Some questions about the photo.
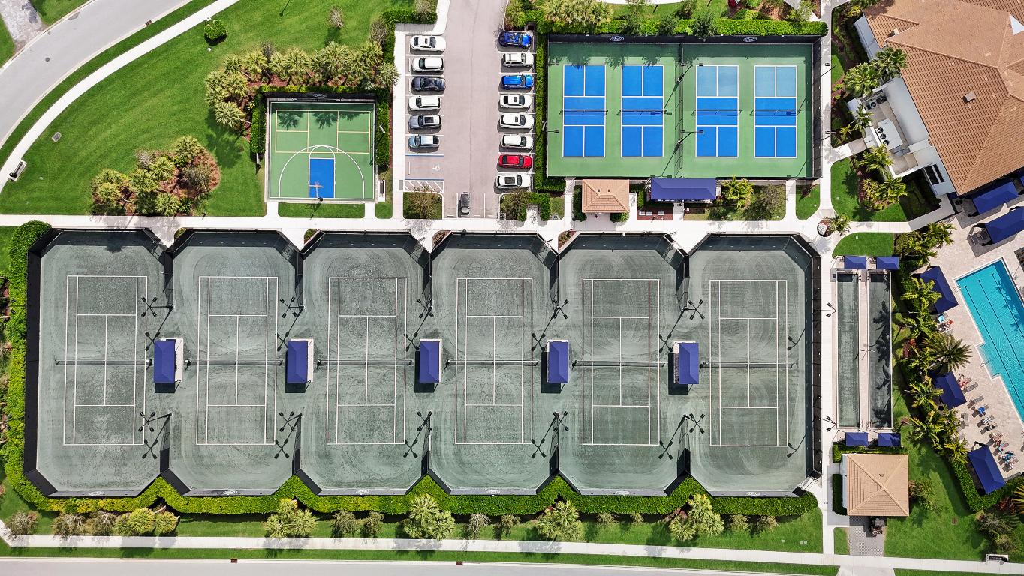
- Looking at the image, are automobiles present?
Yes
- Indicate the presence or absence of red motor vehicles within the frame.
Yes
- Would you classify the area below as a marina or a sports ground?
sports ground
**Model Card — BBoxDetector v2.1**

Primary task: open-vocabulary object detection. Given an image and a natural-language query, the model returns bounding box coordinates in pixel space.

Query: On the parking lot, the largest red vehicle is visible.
[499,152,532,168]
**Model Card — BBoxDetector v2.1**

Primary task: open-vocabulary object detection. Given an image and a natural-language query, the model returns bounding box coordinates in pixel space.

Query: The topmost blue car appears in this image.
[500,28,532,46]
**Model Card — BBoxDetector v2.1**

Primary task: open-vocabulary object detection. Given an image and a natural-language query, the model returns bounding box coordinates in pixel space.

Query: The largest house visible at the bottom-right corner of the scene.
[841,454,910,517]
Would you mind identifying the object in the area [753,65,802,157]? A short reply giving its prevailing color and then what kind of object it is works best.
blue sports court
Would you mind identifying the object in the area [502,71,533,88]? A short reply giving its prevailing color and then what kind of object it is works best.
blue car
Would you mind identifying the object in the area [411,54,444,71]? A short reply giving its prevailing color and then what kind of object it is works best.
white car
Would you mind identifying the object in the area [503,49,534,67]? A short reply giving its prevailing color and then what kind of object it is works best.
white car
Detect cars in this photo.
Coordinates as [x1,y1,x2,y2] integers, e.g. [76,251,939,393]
[502,132,533,148]
[408,133,439,148]
[501,91,532,107]
[411,33,445,50]
[501,111,533,128]
[499,152,532,168]
[411,74,445,90]
[409,112,441,129]
[411,54,444,71]
[500,28,532,46]
[498,172,531,188]
[409,94,441,110]
[502,71,533,88]
[503,49,534,67]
